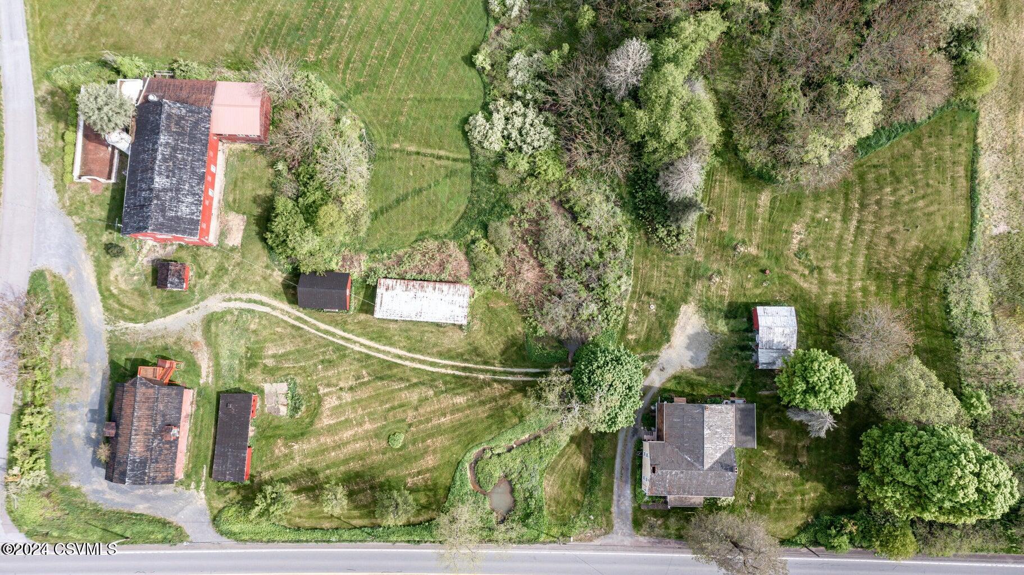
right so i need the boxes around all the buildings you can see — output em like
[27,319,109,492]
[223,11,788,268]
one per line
[157,262,190,291]
[102,360,190,485]
[376,279,471,325]
[642,396,756,508]
[122,77,273,245]
[298,271,353,312]
[214,393,263,482]
[748,306,797,369]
